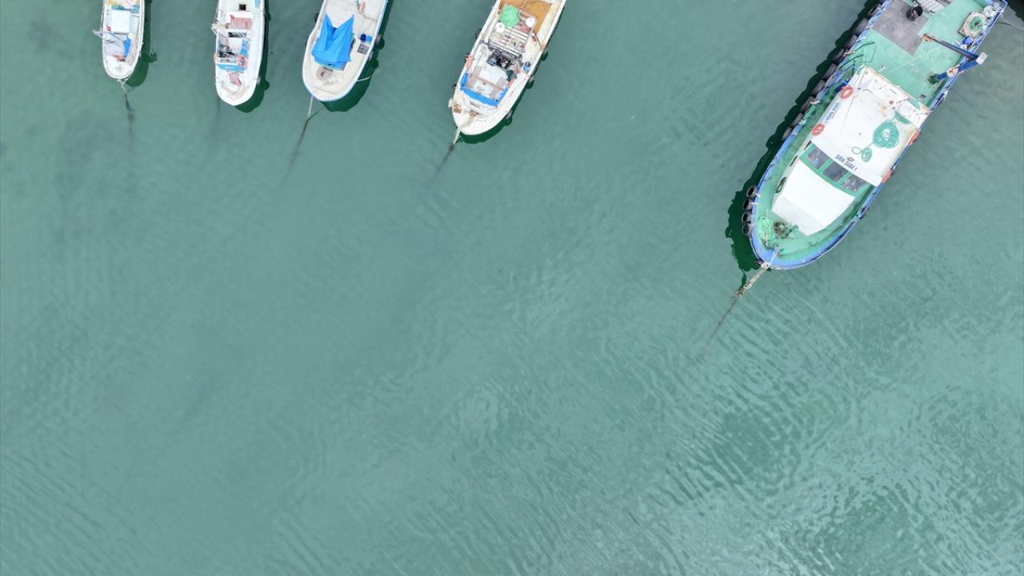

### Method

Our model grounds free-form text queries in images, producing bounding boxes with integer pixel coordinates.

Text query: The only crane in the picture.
[914,32,987,84]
